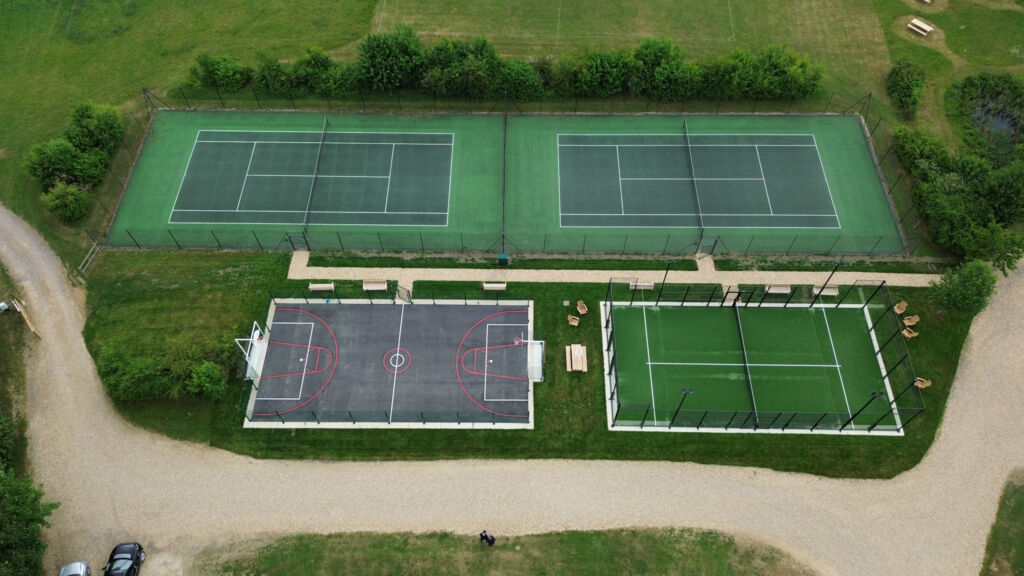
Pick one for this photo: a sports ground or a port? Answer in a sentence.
What you see here is a sports ground.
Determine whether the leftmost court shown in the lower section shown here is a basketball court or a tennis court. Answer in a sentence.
The leftmost court shown in the lower section appears to be a basketball court.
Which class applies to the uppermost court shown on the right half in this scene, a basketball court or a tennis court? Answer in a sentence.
From above, the uppermost court shown on the right half can be identified as a tennis court.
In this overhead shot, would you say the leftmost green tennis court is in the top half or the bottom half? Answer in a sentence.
It is in the top half that the leftmost green tennis court appears.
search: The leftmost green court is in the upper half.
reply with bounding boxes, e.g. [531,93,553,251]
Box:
[97,107,506,253]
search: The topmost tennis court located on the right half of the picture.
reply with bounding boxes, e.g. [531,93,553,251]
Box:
[504,110,911,257]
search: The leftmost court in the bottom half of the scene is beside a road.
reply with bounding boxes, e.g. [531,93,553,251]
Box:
[242,298,544,430]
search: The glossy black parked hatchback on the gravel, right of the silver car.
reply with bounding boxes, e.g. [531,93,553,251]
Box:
[100,542,144,576]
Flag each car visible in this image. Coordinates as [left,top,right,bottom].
[58,560,94,576]
[100,542,144,576]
